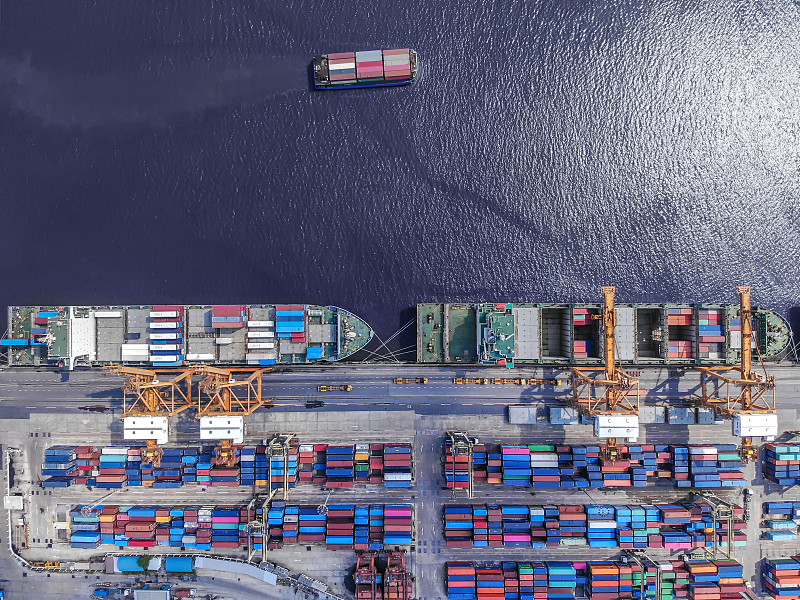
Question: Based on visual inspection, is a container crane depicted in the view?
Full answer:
Yes, looking at the shot, I can spot a container crane.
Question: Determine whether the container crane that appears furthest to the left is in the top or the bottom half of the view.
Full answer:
The bottom half of the photo is where the container crane that appears furthest to the left is.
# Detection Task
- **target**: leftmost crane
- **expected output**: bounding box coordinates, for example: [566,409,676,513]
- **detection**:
[101,362,203,470]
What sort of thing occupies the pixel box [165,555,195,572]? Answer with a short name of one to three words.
building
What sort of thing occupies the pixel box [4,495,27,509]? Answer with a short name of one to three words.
building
